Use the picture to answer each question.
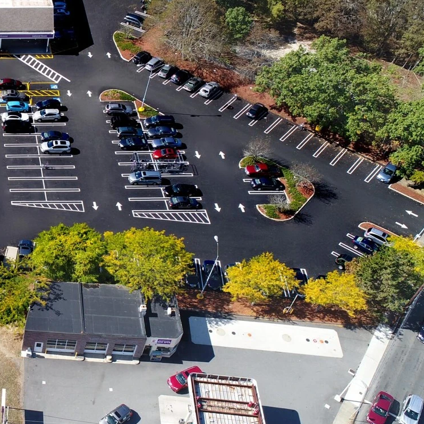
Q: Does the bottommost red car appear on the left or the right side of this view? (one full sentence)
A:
The bottommost red car sits on the right side.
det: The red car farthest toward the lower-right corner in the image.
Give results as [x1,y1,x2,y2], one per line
[367,389,393,424]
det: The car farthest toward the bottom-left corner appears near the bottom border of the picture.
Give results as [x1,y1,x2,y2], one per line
[97,401,136,424]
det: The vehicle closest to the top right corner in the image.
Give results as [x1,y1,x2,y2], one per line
[374,162,397,184]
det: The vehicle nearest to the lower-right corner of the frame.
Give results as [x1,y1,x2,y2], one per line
[396,391,424,424]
